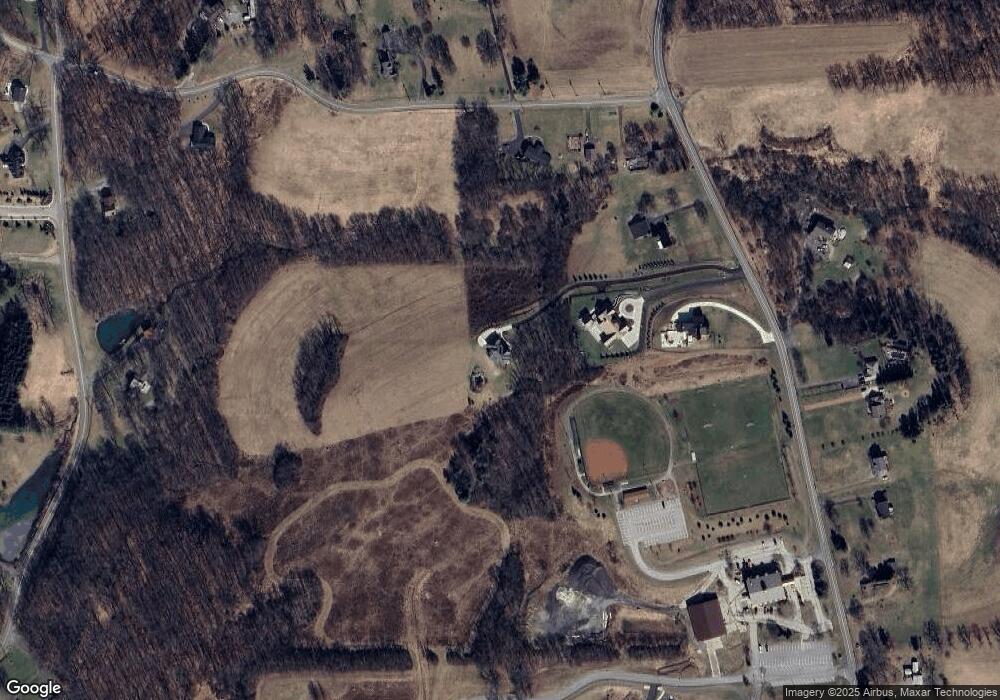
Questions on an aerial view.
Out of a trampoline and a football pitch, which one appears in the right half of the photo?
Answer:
football pitch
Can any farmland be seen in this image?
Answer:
Yes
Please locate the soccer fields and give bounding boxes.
[681,376,790,514]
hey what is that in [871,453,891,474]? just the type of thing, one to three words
house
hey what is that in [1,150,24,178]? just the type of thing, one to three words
house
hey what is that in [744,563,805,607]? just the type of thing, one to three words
building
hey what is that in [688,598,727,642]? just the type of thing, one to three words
building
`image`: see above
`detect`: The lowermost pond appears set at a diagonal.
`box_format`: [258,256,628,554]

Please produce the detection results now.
[0,449,62,560]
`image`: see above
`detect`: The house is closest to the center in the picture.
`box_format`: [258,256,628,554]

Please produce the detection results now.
[483,334,512,364]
